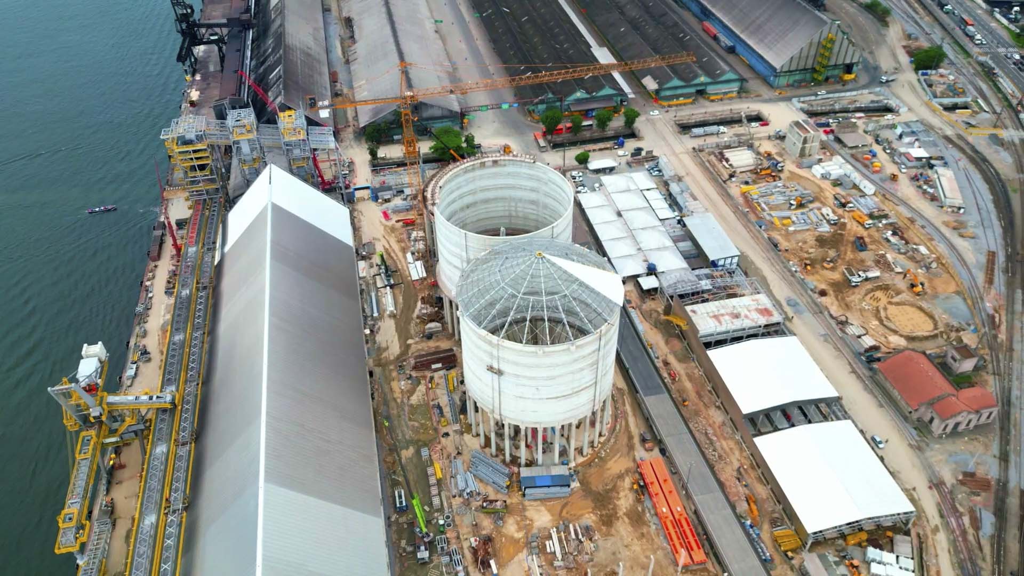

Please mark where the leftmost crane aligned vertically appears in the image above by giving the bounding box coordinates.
[153,158,180,263]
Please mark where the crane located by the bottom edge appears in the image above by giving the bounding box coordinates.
[399,455,449,572]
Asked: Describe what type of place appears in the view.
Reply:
industrial area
